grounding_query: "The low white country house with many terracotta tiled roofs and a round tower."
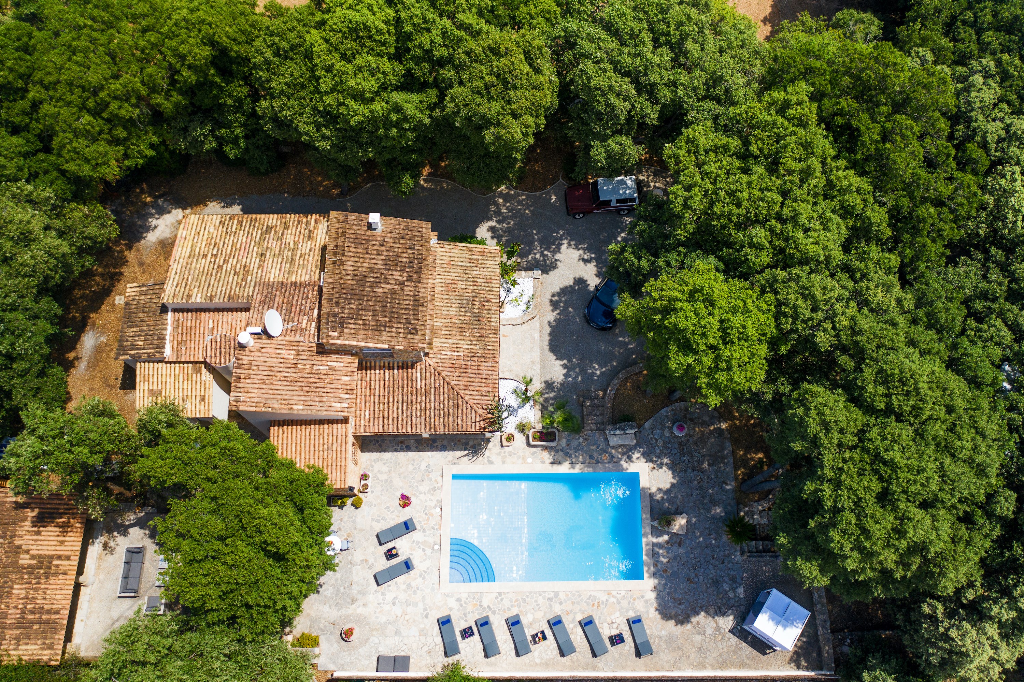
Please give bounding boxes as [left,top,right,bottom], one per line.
[114,212,501,496]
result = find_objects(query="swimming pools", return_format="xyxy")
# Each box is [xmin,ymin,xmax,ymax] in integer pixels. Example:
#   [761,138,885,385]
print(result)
[439,463,654,593]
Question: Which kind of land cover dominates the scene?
trees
